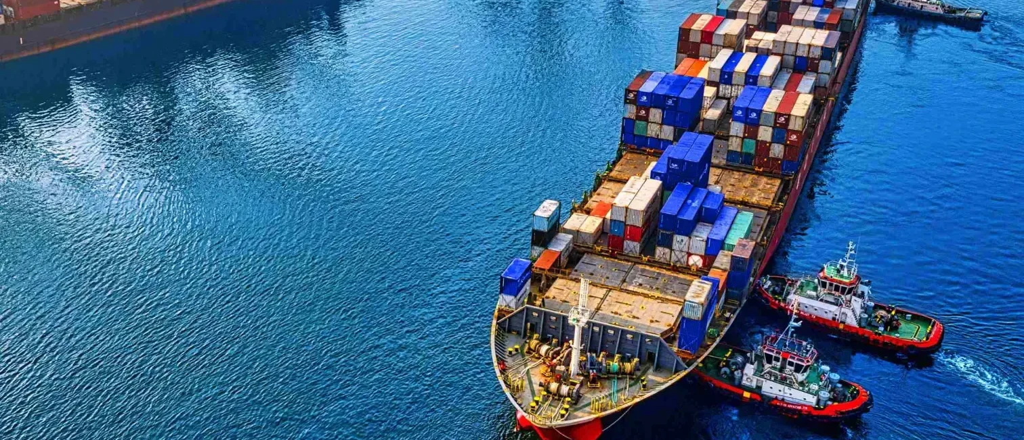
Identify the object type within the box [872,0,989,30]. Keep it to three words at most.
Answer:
boat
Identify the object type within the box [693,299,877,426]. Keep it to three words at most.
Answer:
boat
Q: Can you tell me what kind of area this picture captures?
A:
port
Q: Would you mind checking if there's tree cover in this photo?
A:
No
